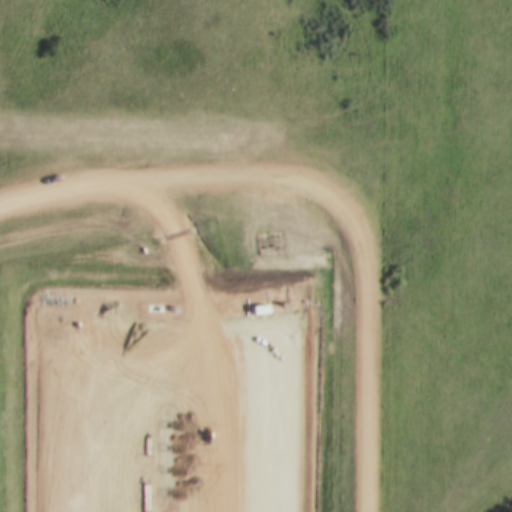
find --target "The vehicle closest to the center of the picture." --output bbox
[245,302,274,318]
